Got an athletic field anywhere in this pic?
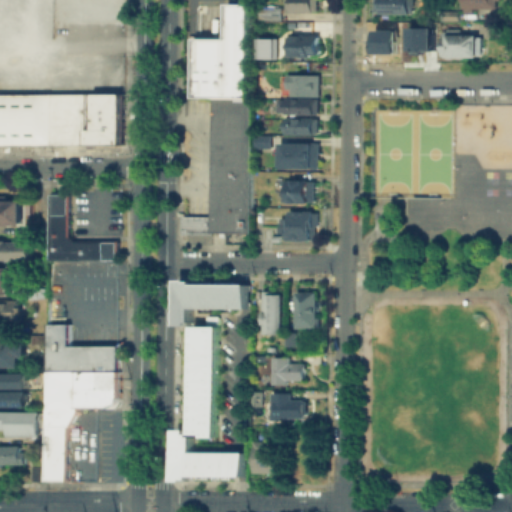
Yes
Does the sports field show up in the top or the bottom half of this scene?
bottom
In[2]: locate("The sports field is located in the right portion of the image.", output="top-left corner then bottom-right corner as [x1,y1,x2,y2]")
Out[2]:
[368,306,498,476]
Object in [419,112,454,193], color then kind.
green sports court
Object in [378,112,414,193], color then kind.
green sports court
